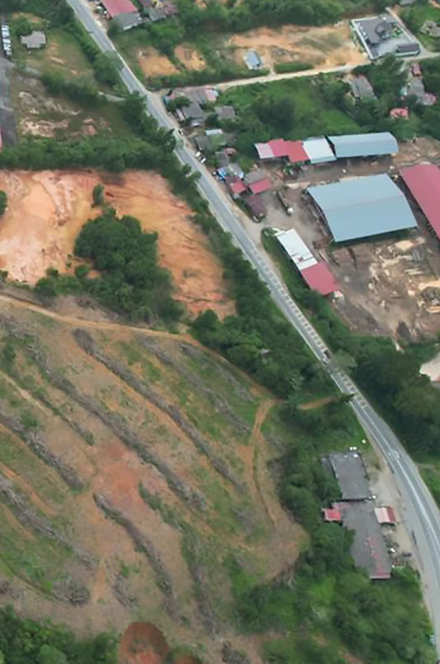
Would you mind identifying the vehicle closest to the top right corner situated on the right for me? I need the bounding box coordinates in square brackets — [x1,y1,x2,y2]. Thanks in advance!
[274,187,293,212]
